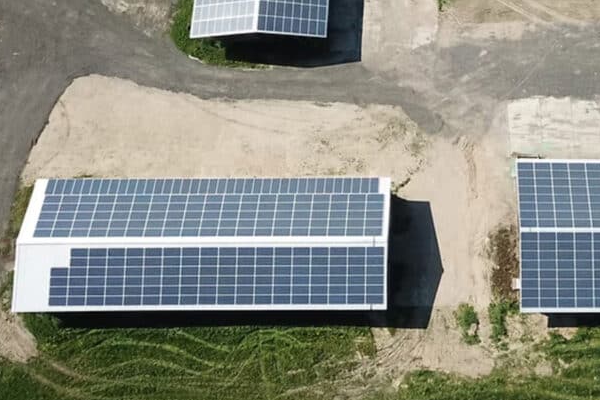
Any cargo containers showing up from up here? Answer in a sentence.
No, the photo shows no cargo container.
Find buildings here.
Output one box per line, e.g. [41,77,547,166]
[190,0,330,45]
[513,159,600,314]
[11,177,391,313]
